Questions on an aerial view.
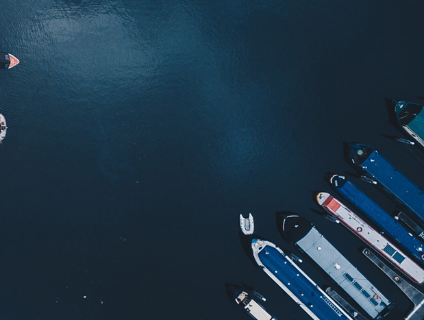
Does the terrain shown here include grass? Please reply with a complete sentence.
No, there is no grass in the image.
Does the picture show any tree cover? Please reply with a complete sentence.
No, there is no tree cover in the image.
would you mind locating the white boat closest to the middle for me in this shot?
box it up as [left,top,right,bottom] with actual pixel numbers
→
[240,212,254,235]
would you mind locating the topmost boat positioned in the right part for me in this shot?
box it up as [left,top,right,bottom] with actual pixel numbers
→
[390,102,424,151]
